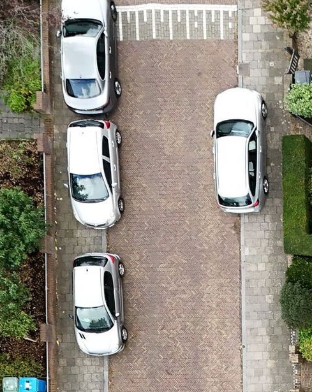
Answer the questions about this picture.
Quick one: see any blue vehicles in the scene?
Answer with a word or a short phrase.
No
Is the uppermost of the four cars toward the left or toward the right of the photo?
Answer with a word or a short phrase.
left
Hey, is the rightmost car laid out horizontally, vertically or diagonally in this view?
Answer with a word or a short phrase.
vertically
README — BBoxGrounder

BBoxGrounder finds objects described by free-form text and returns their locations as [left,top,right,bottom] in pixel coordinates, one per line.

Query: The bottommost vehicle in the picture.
[67,245,131,361]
